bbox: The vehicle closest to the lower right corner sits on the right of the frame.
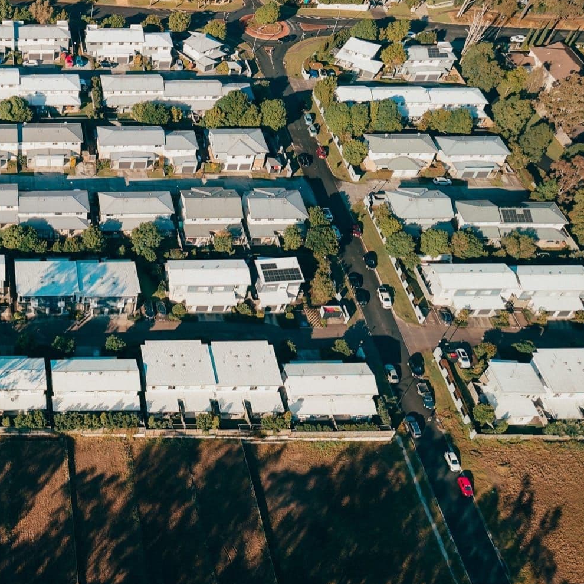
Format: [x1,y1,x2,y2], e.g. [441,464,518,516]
[455,473,476,499]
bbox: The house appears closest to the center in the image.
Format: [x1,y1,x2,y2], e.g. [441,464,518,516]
[251,258,306,312]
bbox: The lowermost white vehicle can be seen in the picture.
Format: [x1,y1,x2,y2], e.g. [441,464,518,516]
[442,449,462,473]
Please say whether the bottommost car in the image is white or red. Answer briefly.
red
